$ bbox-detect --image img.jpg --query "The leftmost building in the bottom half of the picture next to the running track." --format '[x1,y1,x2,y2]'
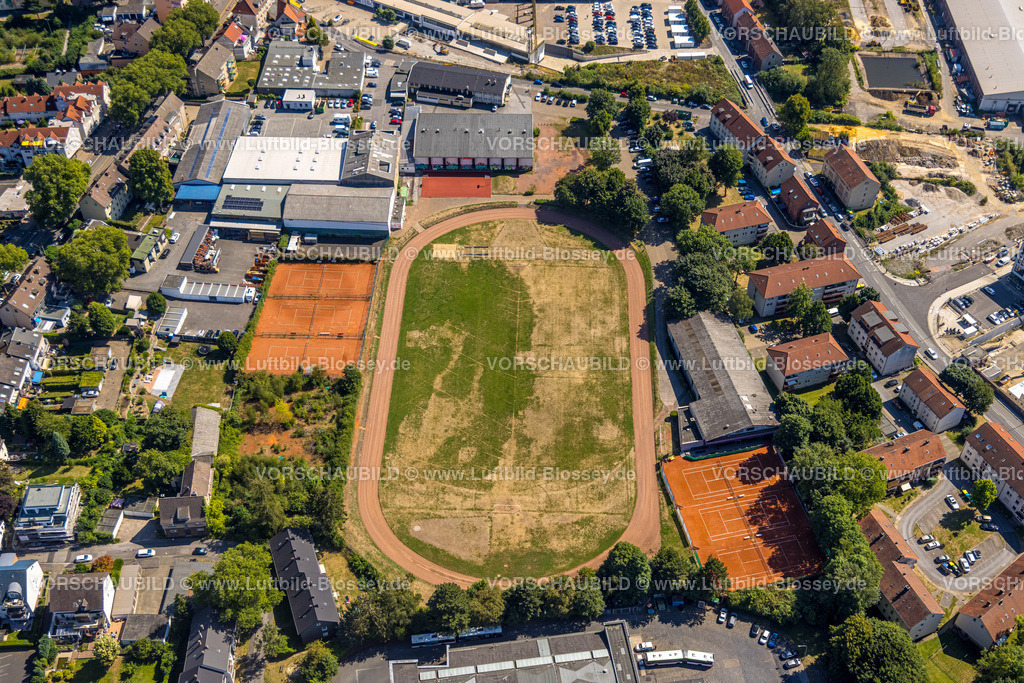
[270,529,339,644]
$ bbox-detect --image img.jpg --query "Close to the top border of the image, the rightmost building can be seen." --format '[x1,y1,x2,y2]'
[935,0,1024,114]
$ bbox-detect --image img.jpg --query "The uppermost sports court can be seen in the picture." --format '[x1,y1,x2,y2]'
[421,173,491,197]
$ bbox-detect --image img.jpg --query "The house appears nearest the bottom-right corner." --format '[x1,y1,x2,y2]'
[952,577,1024,652]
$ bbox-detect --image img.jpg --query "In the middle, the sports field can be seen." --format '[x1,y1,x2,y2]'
[379,218,636,578]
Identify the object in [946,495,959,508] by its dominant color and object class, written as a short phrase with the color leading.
white vehicle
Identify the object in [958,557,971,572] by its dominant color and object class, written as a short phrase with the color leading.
white vehicle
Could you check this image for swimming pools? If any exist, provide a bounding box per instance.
[147,367,180,398]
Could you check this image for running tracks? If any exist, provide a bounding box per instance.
[357,207,661,590]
